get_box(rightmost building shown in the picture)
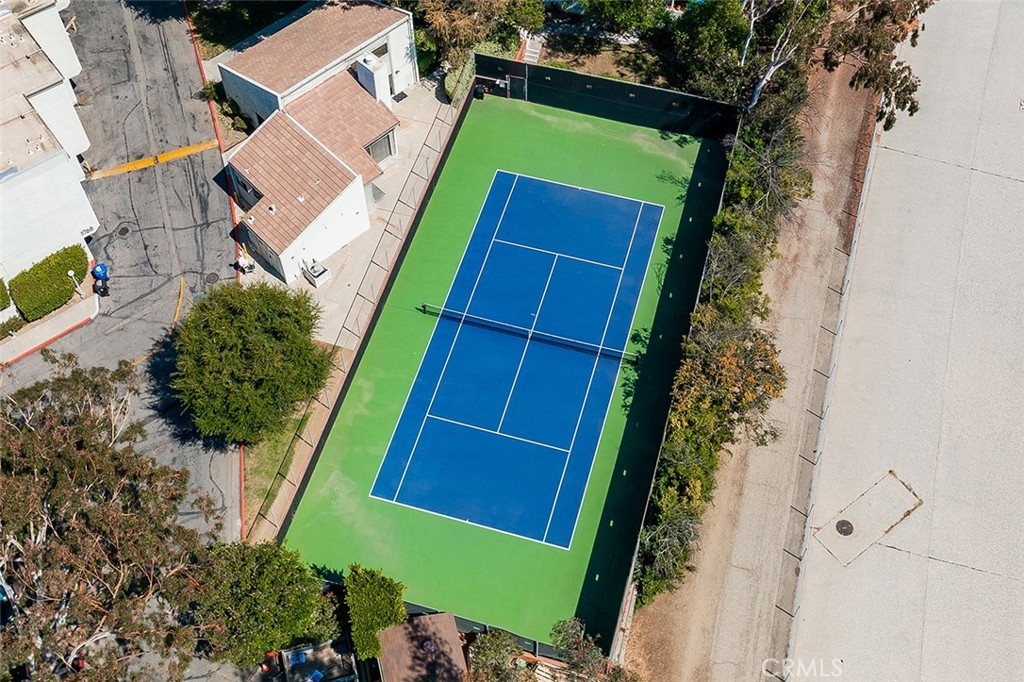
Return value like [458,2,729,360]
[218,0,421,283]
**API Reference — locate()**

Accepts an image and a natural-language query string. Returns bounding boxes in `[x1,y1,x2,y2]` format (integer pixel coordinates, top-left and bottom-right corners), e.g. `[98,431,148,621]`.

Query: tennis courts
[275,94,735,659]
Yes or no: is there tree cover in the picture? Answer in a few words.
Yes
